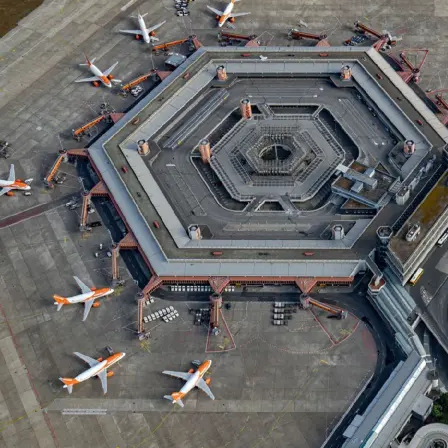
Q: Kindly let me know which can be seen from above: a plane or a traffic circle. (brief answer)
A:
plane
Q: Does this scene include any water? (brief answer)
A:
No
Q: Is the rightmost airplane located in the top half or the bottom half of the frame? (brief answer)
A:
top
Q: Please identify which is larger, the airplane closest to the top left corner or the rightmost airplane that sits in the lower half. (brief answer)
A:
the rightmost airplane that sits in the lower half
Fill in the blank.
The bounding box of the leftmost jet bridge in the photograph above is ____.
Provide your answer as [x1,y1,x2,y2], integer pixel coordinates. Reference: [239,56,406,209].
[44,147,91,184]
